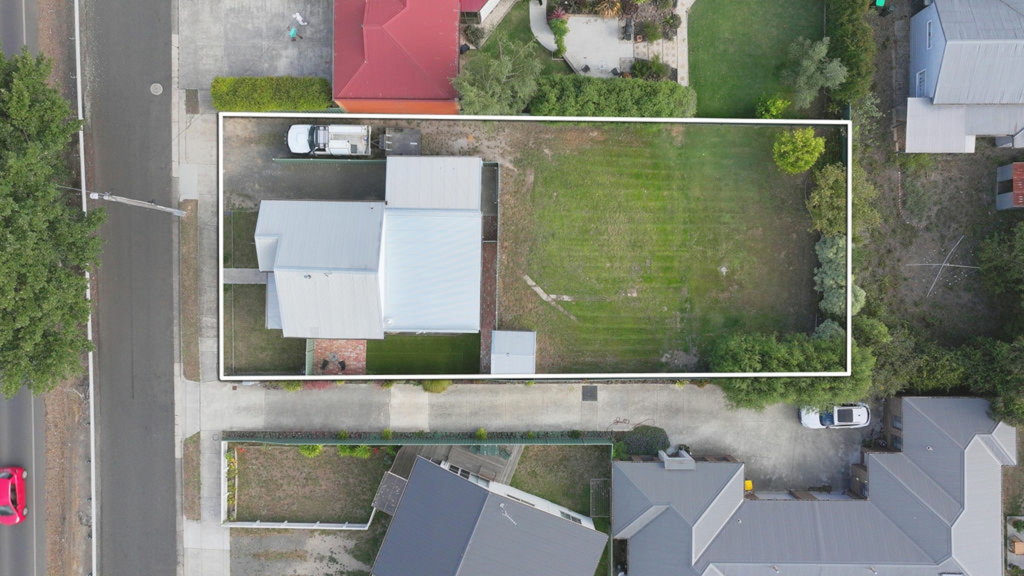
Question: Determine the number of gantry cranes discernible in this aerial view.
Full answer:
The count of gantry cranes is 0.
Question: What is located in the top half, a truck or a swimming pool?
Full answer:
The feature located in the top half is a truck.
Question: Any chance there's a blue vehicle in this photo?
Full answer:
No, no blue vehicle is visible in the view.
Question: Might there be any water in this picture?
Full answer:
No, the scene doesn't show any water.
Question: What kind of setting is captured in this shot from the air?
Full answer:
What you see here is a residential area.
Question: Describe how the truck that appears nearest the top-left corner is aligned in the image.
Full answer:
In this picture, the truck that appears nearest the top-left corner is oriented horizontally.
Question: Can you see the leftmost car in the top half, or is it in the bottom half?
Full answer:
The leftmost car is in the bottom half of the image.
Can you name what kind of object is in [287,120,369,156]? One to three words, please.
truck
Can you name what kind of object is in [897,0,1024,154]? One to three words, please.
house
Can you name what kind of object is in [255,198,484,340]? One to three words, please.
house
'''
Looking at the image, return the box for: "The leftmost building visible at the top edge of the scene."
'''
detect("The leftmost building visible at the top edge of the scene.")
[332,0,463,114]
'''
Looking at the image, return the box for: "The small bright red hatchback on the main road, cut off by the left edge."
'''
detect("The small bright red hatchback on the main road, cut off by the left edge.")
[0,468,29,528]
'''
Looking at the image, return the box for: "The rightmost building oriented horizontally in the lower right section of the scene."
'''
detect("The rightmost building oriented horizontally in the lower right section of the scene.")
[610,393,1018,576]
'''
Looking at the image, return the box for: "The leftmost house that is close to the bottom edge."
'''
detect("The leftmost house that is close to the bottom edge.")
[365,450,610,576]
